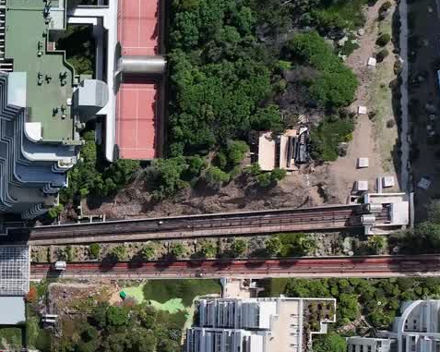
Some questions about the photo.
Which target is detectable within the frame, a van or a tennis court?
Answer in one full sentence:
It is a tennis court that can be seen here.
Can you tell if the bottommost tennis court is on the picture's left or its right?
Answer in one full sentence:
The bottommost tennis court is on the left side of the image.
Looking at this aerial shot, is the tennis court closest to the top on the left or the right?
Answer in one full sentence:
The tennis court closest to the top appears in the left half of the scene.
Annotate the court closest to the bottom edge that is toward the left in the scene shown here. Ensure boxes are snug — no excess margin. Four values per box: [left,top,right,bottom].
[89,81,154,173]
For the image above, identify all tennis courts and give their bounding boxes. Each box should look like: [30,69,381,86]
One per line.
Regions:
[114,0,154,75]
[89,81,154,173]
